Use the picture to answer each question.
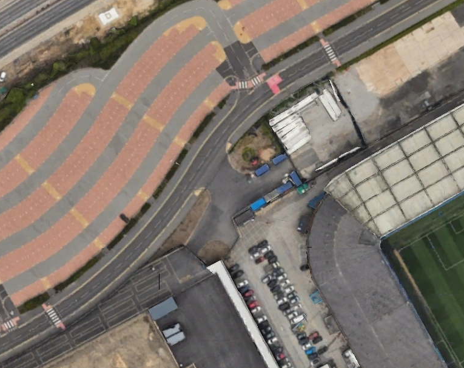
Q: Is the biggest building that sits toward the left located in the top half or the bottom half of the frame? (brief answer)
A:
bottom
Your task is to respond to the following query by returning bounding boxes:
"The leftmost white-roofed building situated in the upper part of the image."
[270,93,320,157]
